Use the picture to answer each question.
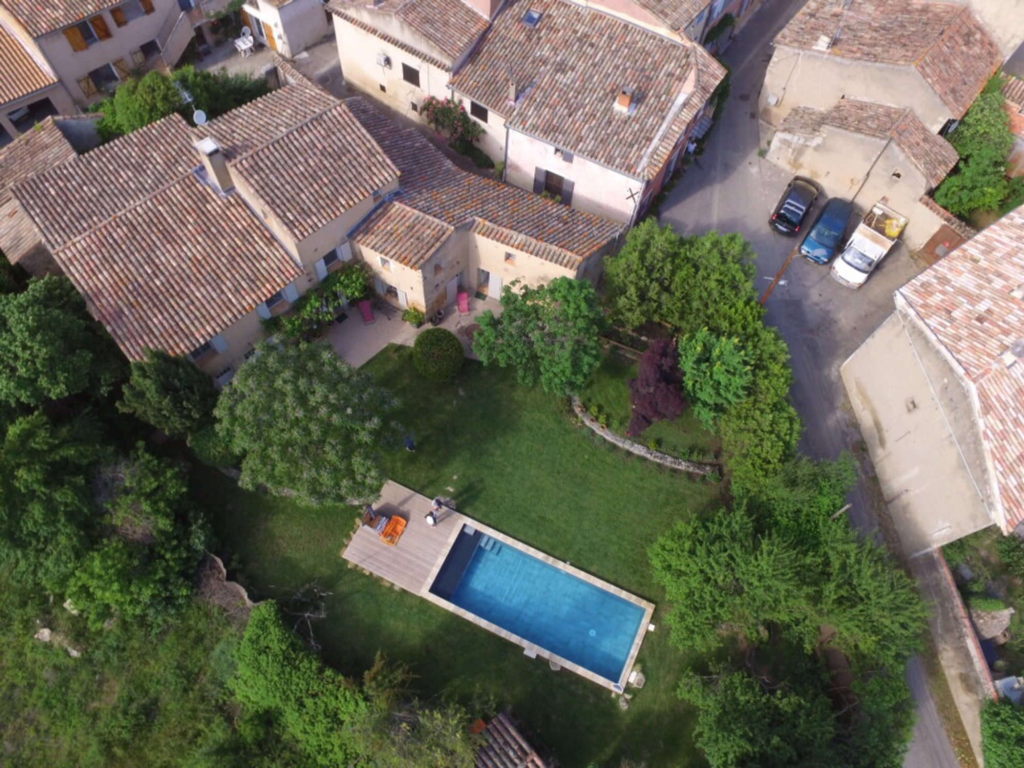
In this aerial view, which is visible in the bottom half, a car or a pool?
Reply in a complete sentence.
The one visible in the bottom half is a pool.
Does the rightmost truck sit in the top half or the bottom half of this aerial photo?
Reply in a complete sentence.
Seen from above, the rightmost truck lies in the top half of the view.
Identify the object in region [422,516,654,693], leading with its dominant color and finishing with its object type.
blue swimming pool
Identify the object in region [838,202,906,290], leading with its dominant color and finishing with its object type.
white truck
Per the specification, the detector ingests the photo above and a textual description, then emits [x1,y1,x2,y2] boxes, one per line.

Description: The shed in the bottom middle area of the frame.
[460,710,544,768]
